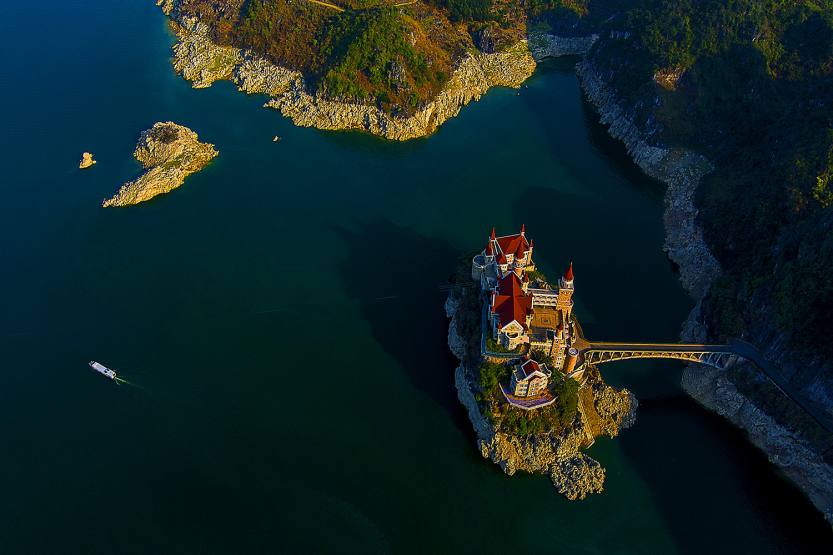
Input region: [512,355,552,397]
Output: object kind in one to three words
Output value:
house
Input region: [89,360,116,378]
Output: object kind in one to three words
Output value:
boat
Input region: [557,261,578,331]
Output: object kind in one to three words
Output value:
building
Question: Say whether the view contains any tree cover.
Yes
